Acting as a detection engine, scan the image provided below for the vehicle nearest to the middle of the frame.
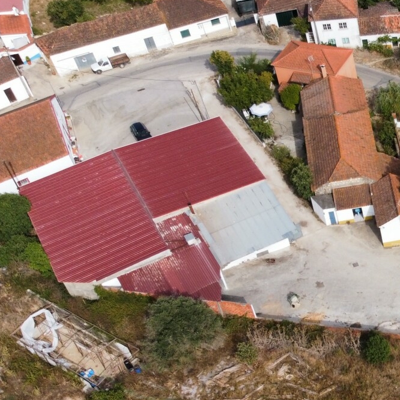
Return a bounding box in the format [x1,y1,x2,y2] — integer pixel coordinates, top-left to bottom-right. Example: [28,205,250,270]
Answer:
[131,116,152,139]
